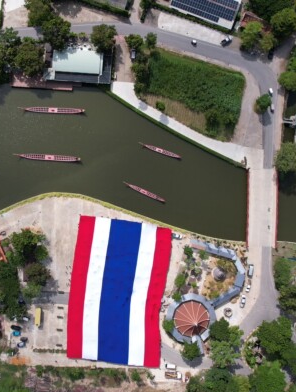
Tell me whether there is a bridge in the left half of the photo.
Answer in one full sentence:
No, no bridge is visible in the left half of the photo.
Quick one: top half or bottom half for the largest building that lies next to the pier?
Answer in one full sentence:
The largest building that lies next to the pier is in the top half of the image.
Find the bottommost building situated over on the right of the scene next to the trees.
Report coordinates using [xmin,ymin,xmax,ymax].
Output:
[164,290,216,353]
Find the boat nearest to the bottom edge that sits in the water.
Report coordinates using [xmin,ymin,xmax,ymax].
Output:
[125,182,167,202]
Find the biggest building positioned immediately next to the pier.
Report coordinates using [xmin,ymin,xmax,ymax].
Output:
[43,42,113,88]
